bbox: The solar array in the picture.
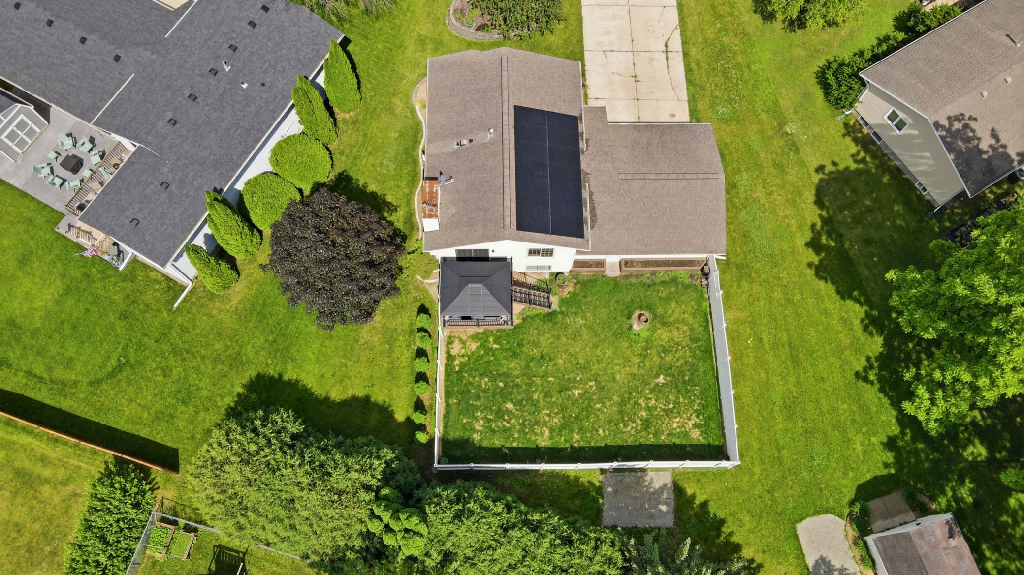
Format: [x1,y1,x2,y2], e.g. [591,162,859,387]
[514,106,582,239]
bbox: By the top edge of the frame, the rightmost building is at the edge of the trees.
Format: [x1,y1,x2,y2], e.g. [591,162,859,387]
[850,0,1024,223]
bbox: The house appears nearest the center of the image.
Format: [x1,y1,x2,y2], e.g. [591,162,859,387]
[421,48,726,272]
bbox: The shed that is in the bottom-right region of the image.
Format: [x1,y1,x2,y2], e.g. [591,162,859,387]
[867,509,979,575]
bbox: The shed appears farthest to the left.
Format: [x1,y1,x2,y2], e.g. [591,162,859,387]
[0,85,49,162]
